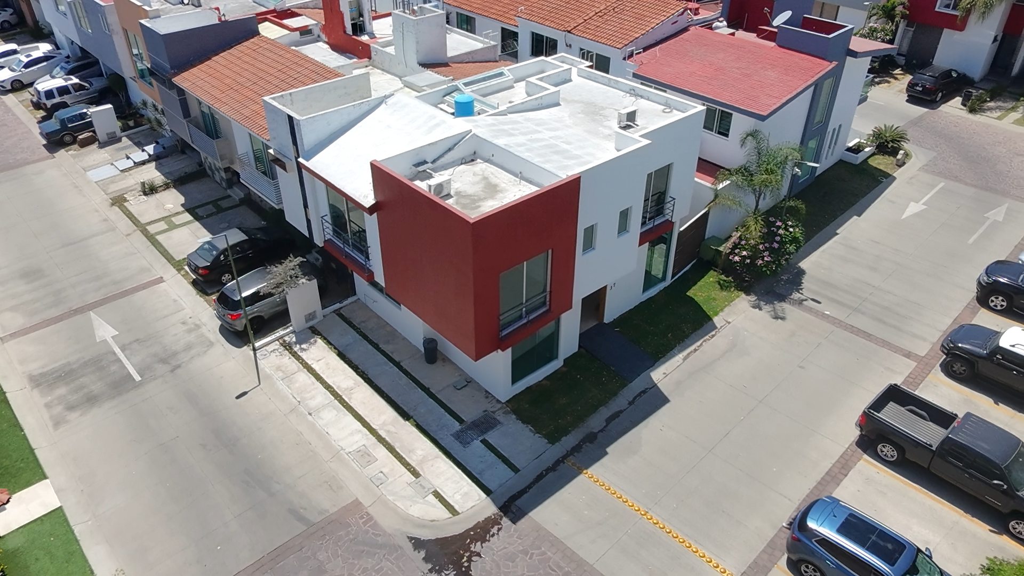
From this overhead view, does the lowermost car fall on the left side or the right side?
right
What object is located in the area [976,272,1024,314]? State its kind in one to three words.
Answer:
car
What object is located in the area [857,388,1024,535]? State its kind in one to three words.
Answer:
truck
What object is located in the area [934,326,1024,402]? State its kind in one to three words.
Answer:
car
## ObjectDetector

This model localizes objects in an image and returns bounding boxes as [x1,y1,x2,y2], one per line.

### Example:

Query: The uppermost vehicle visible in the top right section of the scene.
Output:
[909,65,960,103]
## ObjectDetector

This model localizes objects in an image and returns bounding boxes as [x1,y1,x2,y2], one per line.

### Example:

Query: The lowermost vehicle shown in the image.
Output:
[781,492,943,576]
